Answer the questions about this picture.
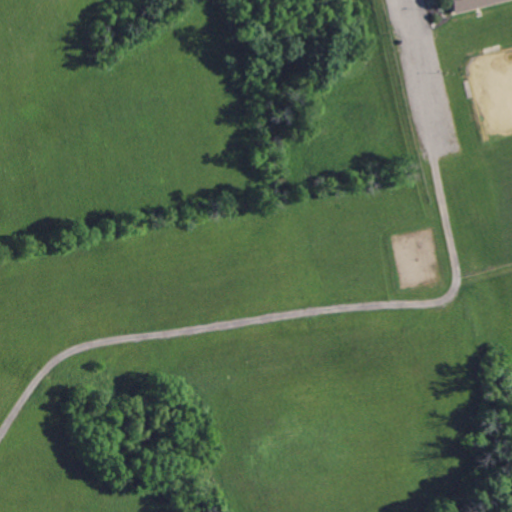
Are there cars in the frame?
No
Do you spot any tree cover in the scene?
Yes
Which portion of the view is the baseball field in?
top right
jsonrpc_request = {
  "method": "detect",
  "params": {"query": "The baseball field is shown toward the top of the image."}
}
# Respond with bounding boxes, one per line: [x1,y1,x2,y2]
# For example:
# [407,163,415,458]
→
[467,48,512,141]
